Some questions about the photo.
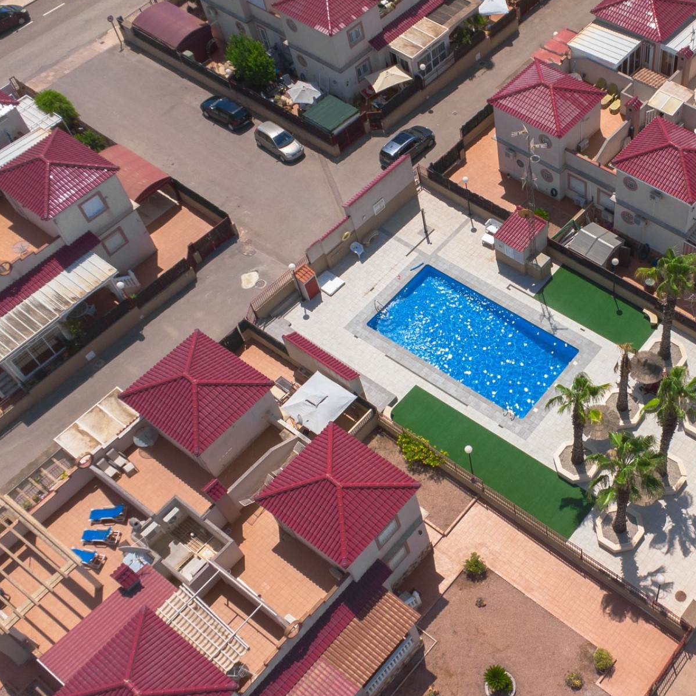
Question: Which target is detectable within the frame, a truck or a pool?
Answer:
pool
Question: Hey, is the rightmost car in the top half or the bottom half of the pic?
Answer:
top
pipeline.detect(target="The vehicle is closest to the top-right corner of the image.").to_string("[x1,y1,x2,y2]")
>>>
[370,123,442,171]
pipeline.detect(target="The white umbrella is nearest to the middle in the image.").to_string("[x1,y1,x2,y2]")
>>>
[278,367,362,436]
